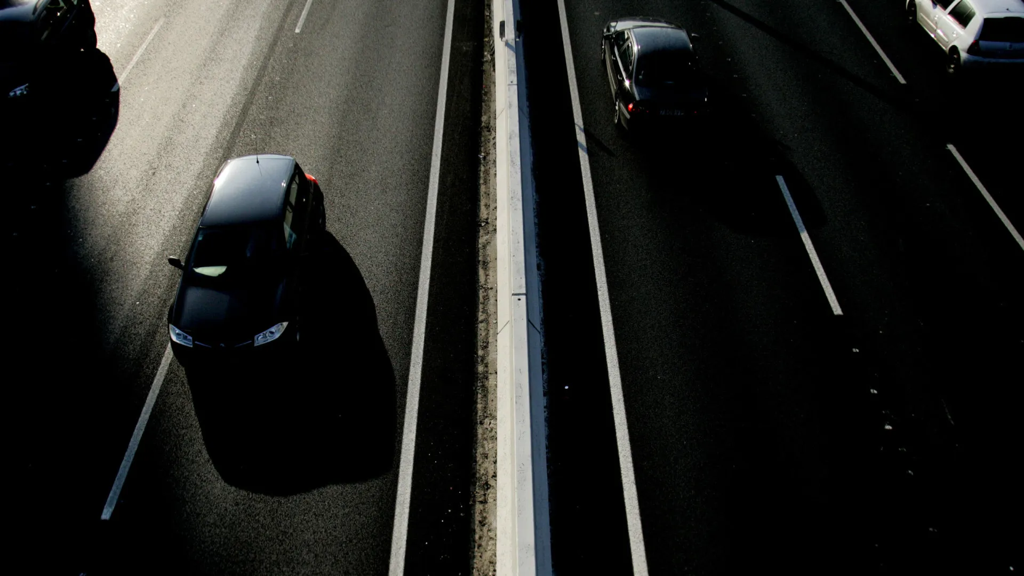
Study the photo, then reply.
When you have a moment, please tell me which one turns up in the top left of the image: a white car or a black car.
black car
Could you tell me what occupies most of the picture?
paved ground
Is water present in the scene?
No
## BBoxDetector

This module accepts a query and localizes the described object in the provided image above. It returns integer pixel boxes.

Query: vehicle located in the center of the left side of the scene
[167,132,327,363]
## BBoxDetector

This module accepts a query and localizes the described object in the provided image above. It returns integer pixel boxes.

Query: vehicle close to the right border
[911,0,1024,74]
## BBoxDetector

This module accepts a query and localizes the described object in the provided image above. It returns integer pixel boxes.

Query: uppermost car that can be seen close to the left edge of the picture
[0,0,96,114]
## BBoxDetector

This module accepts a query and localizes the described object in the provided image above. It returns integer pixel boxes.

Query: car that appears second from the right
[603,23,711,138]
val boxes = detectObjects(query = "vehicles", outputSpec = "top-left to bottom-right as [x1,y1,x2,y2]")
[911,0,1024,74]
[167,132,327,363]
[603,23,711,138]
[0,0,96,114]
